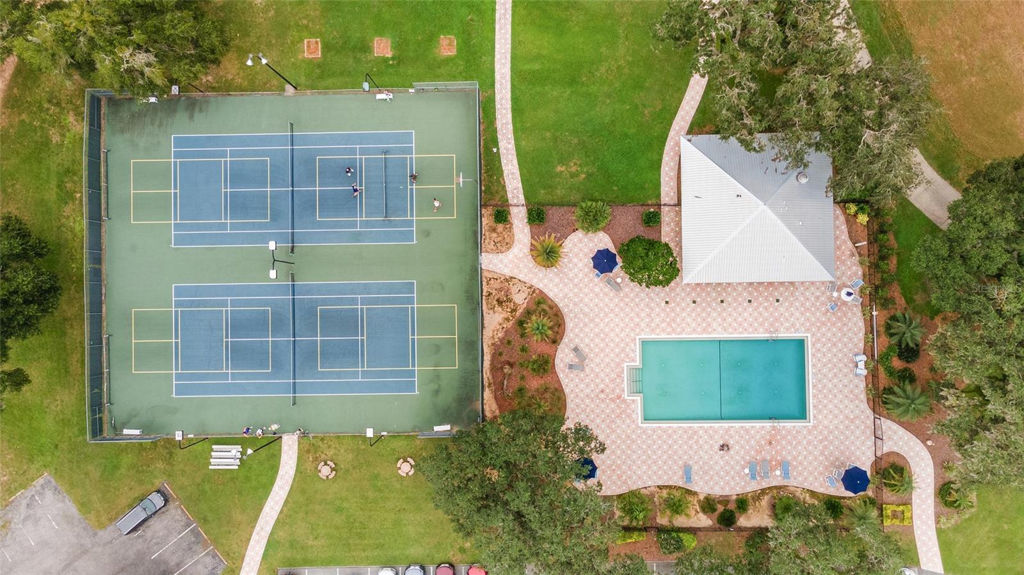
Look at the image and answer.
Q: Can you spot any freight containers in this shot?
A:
No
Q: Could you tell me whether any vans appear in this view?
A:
Yes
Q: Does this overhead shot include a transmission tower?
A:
No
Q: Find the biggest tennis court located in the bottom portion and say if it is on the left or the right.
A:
left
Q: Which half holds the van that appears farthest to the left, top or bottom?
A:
bottom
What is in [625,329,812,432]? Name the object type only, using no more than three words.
swimming pool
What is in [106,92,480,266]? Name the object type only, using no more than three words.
tennis court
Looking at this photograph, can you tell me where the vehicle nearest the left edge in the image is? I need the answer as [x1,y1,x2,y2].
[108,490,167,539]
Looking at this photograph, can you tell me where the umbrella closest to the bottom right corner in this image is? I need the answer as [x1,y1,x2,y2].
[839,465,869,494]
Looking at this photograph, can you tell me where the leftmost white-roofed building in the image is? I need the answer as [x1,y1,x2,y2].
[681,132,835,284]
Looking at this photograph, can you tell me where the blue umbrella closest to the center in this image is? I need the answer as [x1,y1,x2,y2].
[591,247,618,274]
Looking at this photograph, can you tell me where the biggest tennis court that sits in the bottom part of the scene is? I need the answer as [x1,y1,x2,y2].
[107,262,481,436]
